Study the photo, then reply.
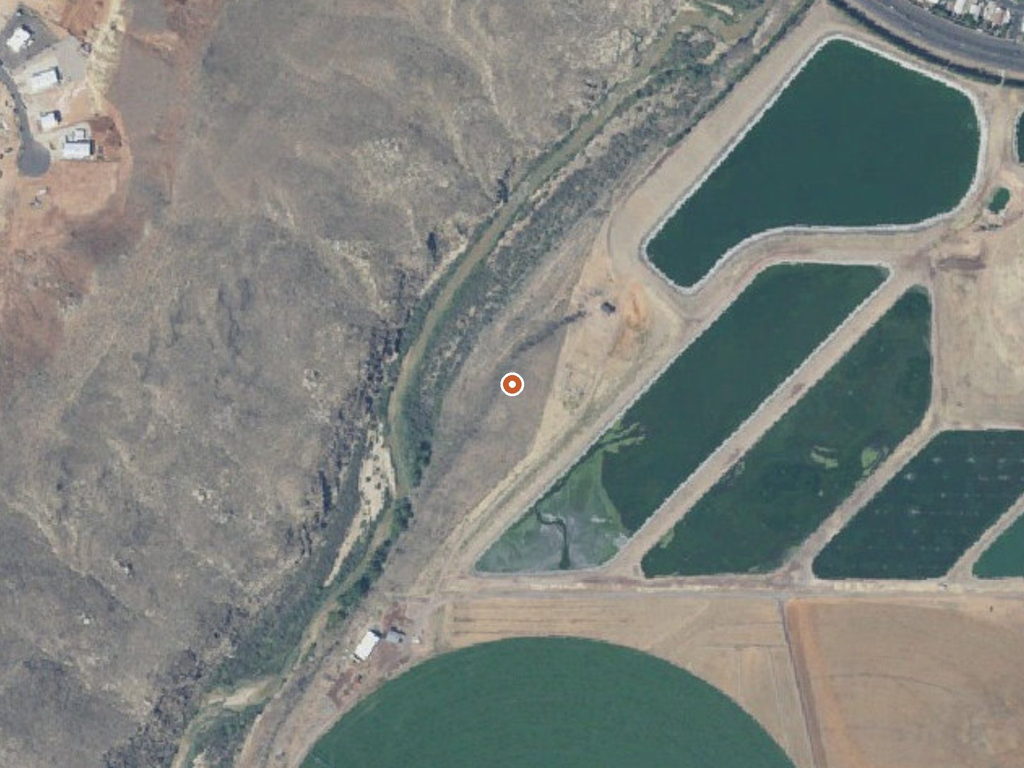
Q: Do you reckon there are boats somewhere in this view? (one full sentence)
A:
No, there's no boat here.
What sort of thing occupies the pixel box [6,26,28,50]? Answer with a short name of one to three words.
house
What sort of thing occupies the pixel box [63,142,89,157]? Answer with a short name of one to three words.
house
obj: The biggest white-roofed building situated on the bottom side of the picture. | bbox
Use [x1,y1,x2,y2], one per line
[355,632,379,661]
